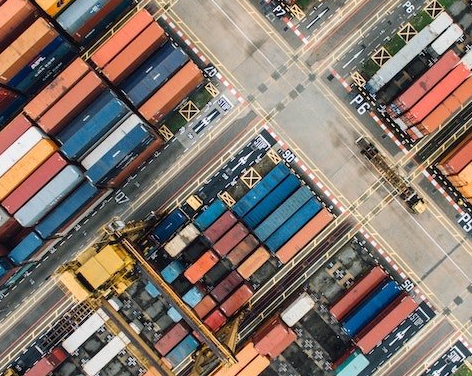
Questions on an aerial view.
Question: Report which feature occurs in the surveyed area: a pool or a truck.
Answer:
truck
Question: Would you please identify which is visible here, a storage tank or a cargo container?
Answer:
cargo container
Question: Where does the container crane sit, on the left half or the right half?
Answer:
left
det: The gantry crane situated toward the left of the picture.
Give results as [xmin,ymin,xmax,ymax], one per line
[49,207,250,376]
